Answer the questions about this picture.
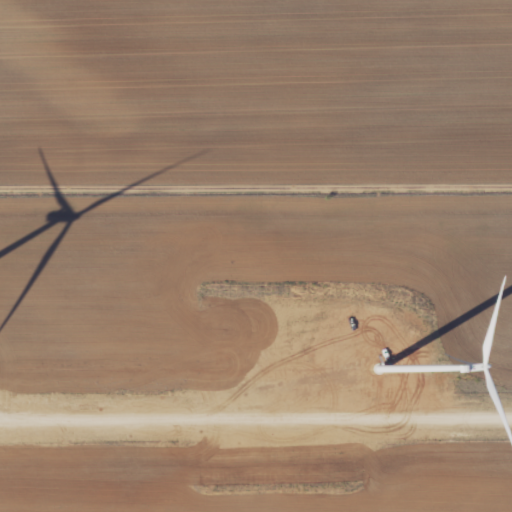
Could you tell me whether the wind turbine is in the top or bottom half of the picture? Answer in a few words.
bottom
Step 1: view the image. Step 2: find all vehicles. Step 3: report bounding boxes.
[350,316,357,330]
[383,348,390,359]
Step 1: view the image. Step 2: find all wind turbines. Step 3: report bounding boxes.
[374,274,512,446]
